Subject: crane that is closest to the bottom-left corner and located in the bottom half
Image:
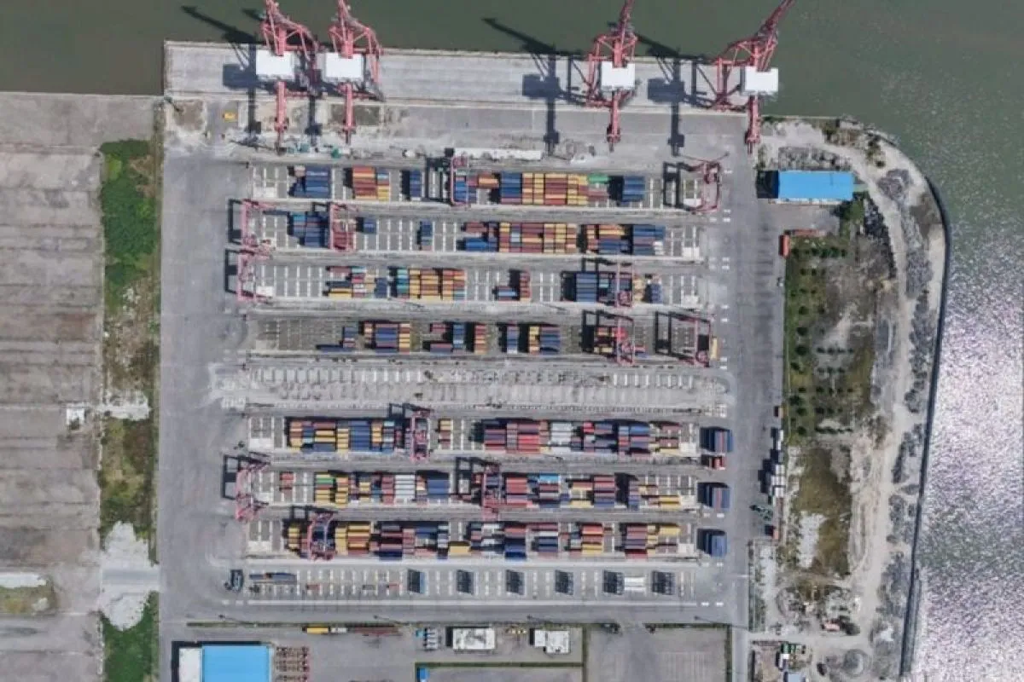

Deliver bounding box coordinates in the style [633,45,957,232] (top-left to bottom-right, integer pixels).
[234,459,268,516]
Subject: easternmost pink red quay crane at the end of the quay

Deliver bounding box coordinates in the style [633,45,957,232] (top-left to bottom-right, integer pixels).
[709,0,795,165]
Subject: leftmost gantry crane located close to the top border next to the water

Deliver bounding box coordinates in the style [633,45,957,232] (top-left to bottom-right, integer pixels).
[256,0,323,151]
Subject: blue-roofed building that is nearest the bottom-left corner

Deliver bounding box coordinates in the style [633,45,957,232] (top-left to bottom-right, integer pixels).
[202,640,275,682]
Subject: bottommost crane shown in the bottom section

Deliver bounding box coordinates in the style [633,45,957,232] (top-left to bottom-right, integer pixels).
[308,510,338,568]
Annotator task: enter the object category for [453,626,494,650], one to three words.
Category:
building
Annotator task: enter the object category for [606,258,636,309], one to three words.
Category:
crane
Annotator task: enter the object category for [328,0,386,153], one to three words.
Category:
container crane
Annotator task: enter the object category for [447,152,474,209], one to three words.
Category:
crane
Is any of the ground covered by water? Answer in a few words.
Yes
